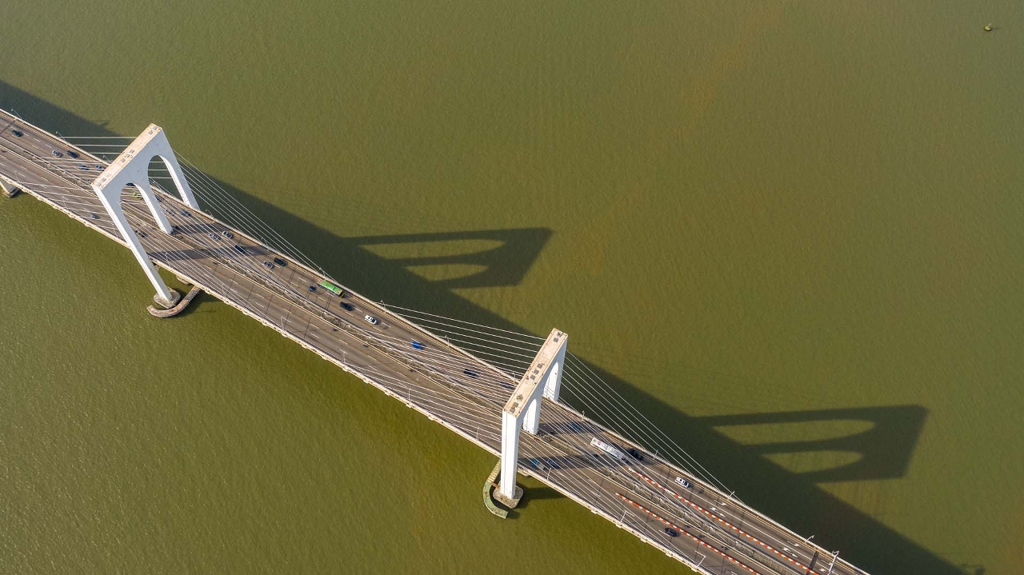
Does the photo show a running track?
No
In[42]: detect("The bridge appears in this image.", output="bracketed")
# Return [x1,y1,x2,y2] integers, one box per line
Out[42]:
[0,107,872,575]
